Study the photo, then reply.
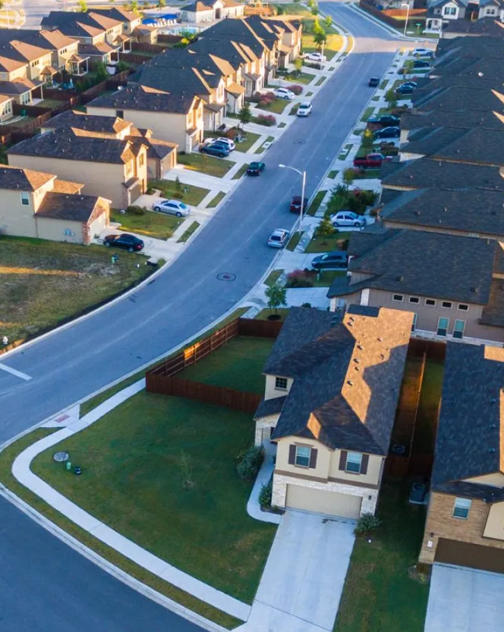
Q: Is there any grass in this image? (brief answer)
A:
Yes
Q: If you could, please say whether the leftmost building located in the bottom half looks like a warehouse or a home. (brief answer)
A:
home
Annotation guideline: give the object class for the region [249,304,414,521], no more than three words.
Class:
house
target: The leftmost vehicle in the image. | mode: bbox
[101,233,147,252]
